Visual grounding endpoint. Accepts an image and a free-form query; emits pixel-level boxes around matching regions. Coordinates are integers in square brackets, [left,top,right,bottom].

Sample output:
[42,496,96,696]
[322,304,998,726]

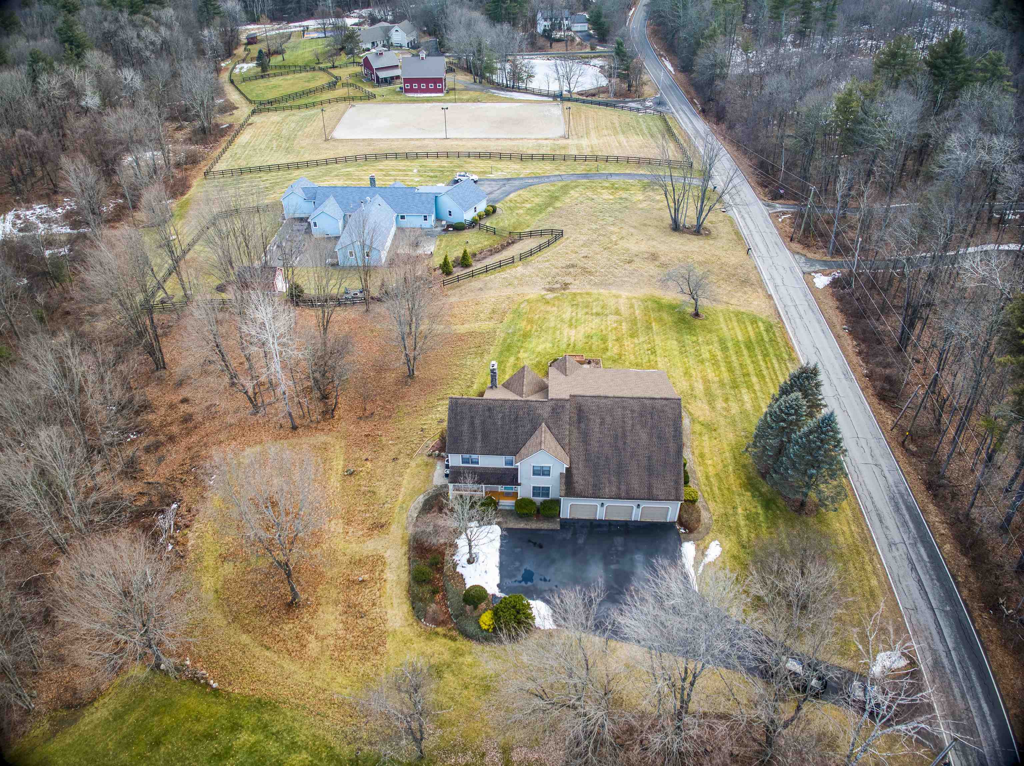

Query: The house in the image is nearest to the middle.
[445,354,685,522]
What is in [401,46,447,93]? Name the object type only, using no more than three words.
barn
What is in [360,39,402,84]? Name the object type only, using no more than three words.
barn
